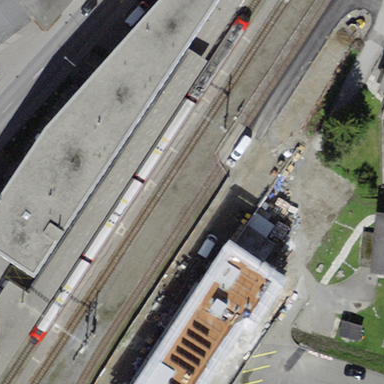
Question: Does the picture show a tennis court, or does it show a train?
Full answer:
There is a train in the scene.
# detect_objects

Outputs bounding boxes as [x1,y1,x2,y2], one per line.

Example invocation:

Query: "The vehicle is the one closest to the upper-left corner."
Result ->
[80,0,96,15]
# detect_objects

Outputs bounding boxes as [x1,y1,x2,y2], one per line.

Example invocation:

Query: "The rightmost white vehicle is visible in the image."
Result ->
[230,136,250,162]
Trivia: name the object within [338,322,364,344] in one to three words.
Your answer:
shed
